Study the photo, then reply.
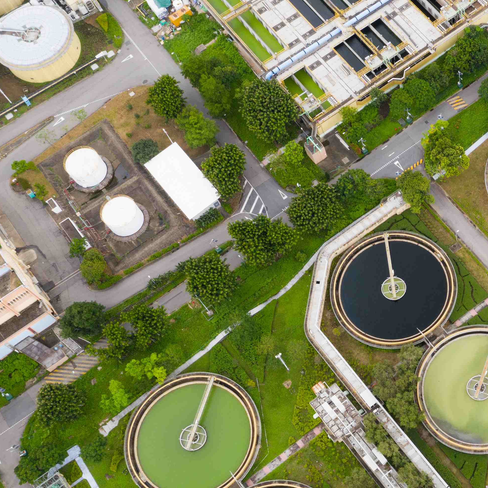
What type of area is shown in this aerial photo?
industrial area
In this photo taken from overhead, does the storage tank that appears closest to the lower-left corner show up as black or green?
green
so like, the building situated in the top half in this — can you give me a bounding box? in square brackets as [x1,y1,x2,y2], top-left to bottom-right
[146,143,224,225]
